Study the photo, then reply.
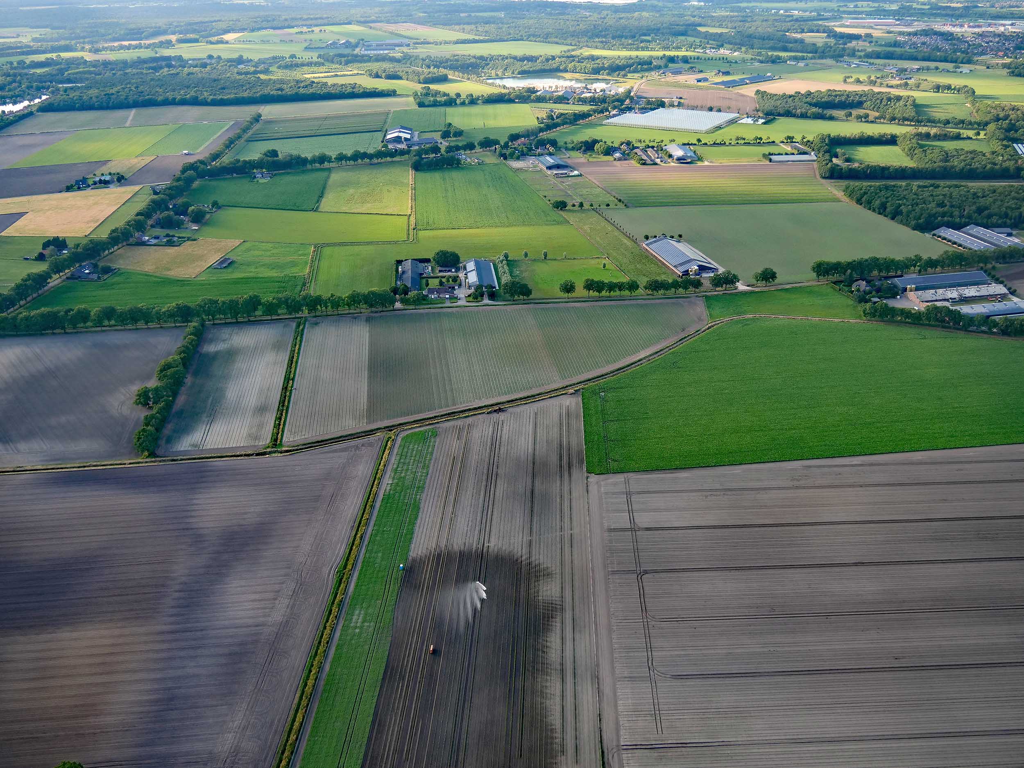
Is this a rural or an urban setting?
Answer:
rural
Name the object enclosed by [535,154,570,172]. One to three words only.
barn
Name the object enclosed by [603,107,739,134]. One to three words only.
greenhouse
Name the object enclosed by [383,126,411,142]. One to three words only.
barn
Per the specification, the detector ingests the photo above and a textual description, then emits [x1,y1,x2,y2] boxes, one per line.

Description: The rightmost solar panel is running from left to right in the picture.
[899,271,989,286]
